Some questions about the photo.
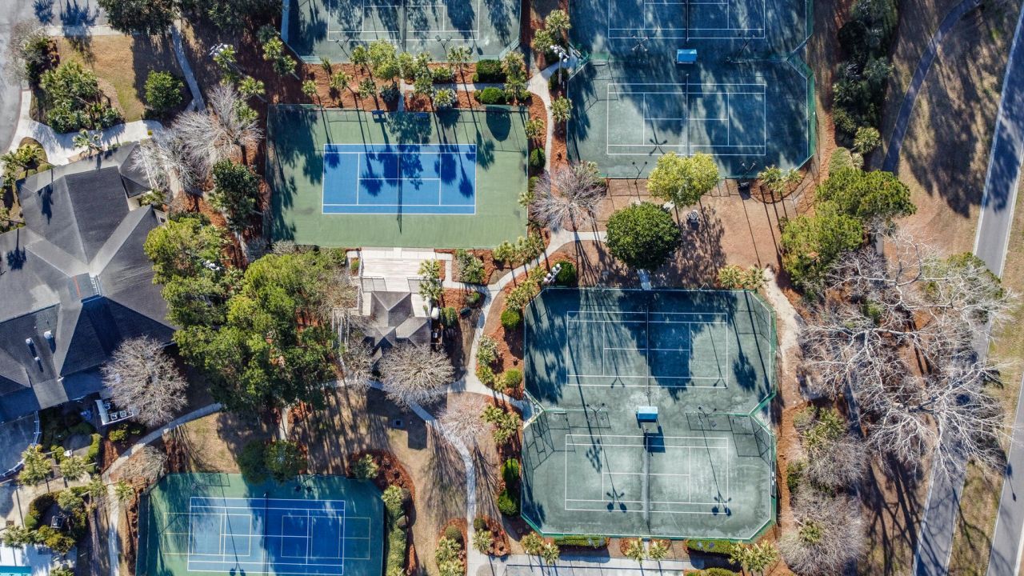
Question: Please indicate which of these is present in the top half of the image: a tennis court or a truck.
tennis court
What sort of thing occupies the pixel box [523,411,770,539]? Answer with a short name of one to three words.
tennis court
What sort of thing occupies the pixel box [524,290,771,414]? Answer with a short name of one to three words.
tennis court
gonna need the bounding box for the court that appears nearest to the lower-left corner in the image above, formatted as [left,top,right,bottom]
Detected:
[147,474,382,576]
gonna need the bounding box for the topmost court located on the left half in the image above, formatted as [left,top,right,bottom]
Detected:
[287,0,520,62]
